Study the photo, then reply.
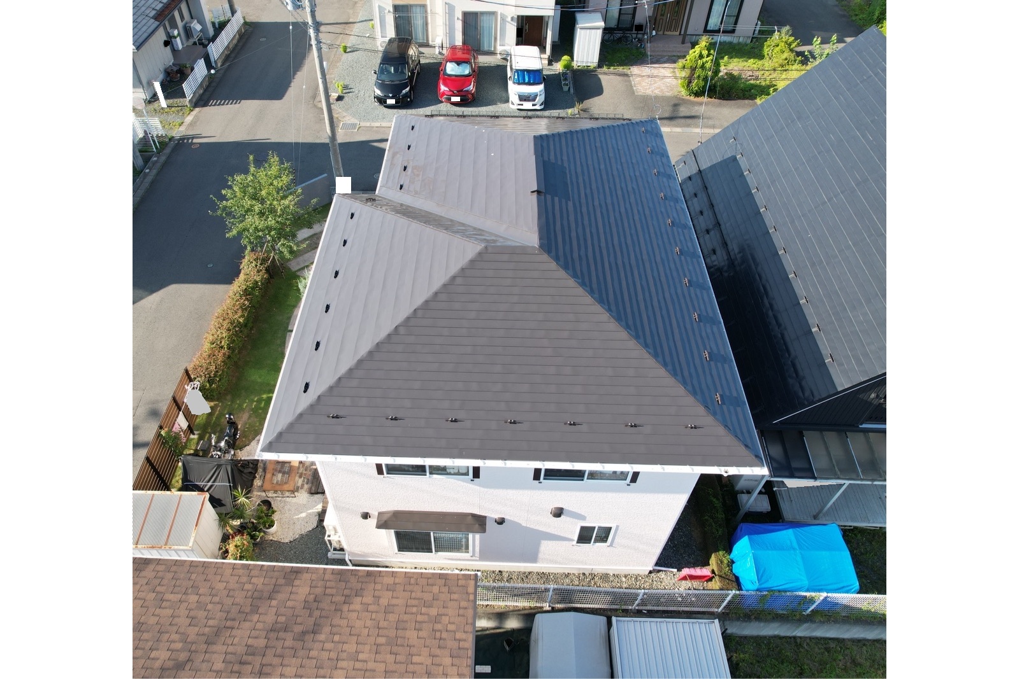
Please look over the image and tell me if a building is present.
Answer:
Yes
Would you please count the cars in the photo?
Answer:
3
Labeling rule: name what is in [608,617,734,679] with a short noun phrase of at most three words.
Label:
shed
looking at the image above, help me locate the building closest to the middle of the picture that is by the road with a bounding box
[256,108,768,583]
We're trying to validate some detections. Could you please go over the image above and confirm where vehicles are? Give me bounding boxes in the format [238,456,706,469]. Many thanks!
[434,46,480,105]
[369,34,418,106]
[194,388,247,454]
[506,45,550,109]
